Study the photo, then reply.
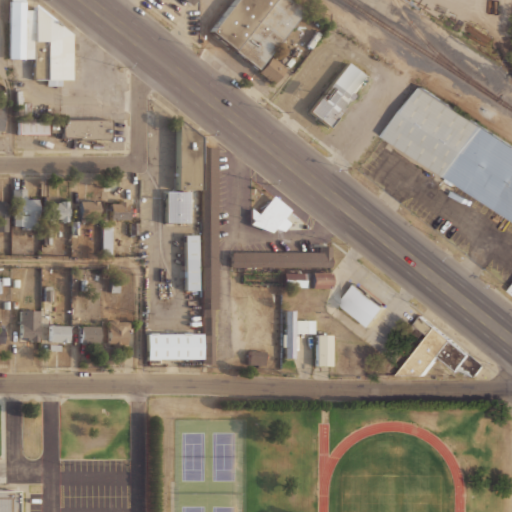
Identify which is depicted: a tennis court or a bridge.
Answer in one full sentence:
It is a tennis court that can be seen here.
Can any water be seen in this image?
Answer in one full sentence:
No, there is no water in the image.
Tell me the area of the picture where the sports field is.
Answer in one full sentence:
Look in the bottom right portion of the view to spot the sports field.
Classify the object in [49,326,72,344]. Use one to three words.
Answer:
house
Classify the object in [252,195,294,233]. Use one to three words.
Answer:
building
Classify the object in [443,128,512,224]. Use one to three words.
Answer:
building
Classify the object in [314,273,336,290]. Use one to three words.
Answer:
barn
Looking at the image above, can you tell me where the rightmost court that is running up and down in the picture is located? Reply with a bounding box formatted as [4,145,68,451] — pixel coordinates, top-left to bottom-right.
[209,420,244,492]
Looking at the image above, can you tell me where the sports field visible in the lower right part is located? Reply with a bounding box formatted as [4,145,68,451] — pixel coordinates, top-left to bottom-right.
[330,432,454,512]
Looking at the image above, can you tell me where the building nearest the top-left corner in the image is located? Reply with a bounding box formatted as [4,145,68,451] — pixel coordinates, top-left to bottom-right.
[10,0,74,86]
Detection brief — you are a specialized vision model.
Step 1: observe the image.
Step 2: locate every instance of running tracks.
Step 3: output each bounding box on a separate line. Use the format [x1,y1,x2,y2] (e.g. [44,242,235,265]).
[318,420,466,512]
